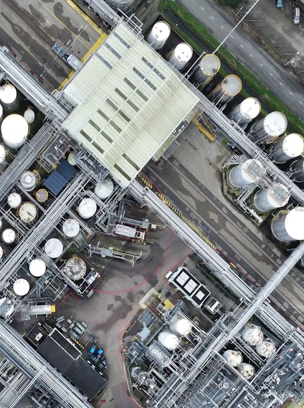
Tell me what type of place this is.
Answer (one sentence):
This looks like an industrial area.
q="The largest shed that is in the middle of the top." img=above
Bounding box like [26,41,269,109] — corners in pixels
[47,21,200,192]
